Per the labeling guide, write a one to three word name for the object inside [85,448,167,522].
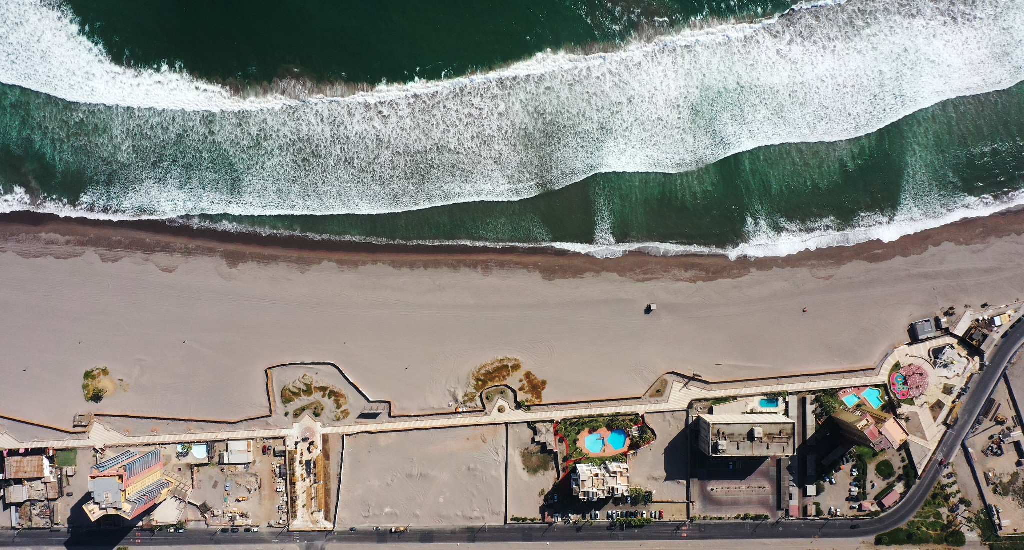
building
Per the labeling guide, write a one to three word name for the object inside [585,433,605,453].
swimming pool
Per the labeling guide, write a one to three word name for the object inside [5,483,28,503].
shed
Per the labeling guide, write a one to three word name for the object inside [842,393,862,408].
swimming pool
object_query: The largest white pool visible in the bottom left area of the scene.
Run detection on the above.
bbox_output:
[190,444,208,459]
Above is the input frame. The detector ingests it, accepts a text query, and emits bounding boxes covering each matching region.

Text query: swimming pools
[607,429,628,451]
[758,398,779,408]
[842,393,862,408]
[190,444,208,459]
[585,433,605,453]
[861,387,883,410]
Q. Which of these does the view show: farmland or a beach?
beach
